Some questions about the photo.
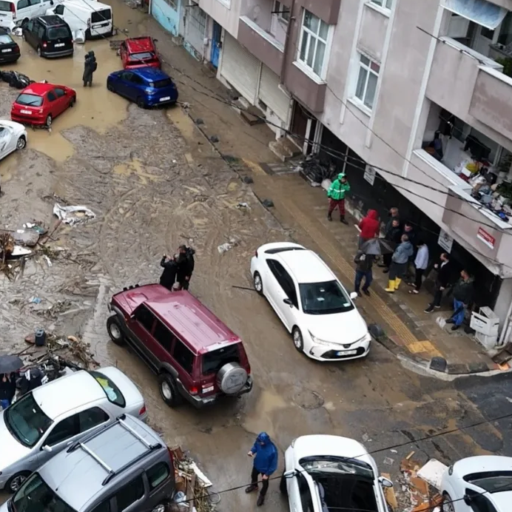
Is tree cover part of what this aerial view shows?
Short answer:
No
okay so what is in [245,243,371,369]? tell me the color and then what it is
white car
